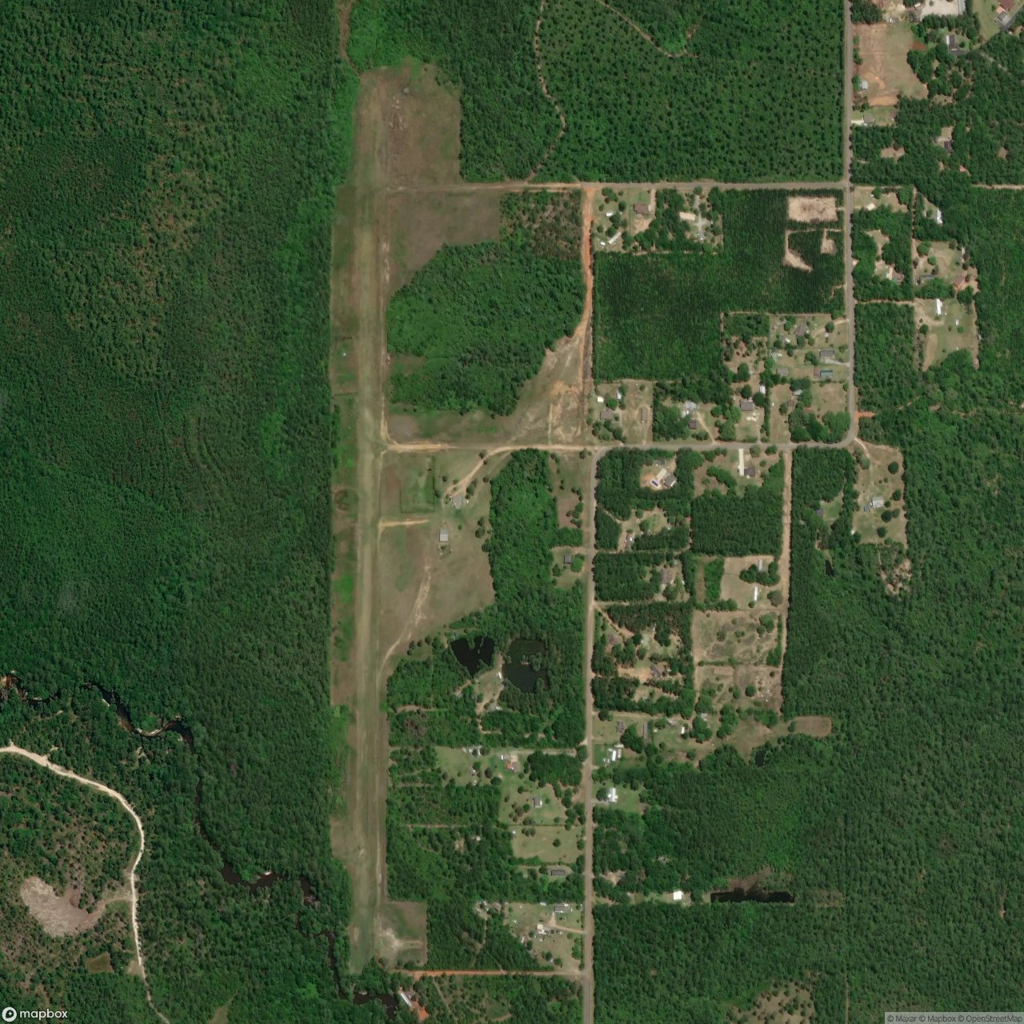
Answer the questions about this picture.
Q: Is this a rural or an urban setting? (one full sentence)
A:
This place is rural.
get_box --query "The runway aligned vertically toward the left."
[328,58,490,972]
